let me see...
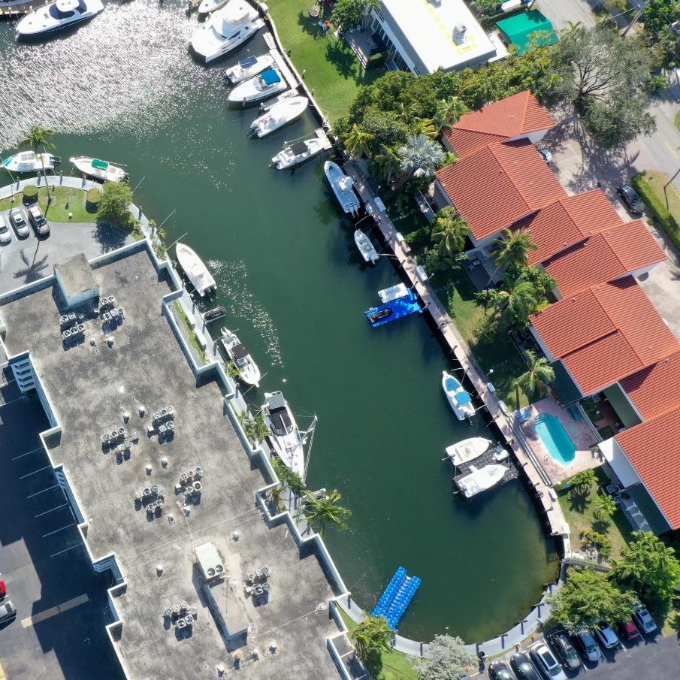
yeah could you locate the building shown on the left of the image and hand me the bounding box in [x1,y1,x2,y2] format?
[0,237,376,680]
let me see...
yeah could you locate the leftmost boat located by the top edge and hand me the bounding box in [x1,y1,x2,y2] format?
[16,0,110,36]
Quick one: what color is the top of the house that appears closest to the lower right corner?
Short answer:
red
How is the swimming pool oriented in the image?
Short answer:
diagonally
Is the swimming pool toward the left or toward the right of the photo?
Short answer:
right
